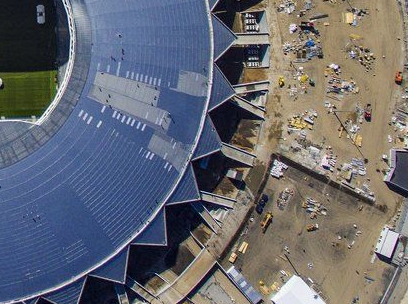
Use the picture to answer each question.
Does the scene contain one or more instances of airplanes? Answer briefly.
No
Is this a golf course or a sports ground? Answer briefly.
sports ground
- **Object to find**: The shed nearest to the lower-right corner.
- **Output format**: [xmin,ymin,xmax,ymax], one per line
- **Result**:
[371,229,398,258]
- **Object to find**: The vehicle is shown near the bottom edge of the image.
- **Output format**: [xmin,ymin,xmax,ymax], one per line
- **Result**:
[255,278,271,298]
